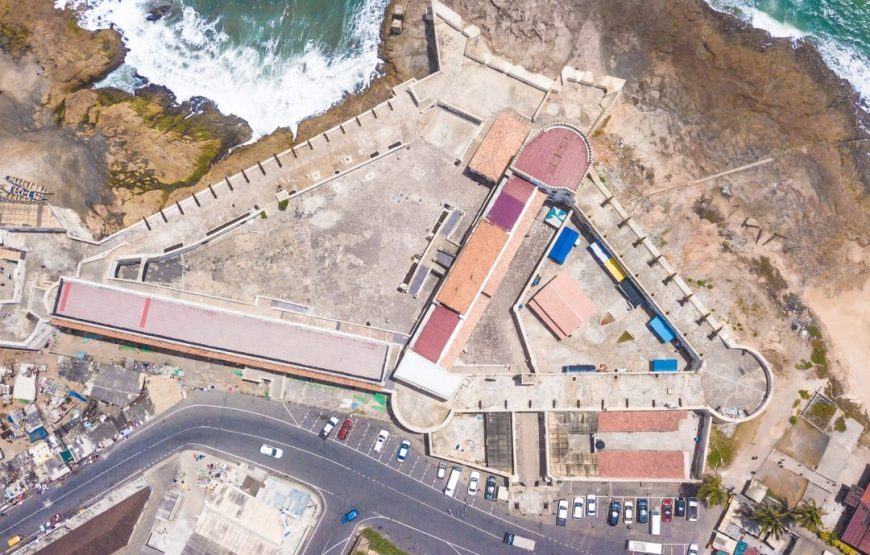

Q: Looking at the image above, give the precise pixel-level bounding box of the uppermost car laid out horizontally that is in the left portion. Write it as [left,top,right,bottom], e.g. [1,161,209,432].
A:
[260,445,284,458]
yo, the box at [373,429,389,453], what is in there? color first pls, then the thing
white car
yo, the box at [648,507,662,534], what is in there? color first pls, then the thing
white vehicle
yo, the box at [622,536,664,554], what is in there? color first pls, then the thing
white vehicle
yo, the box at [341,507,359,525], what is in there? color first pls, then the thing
blue car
